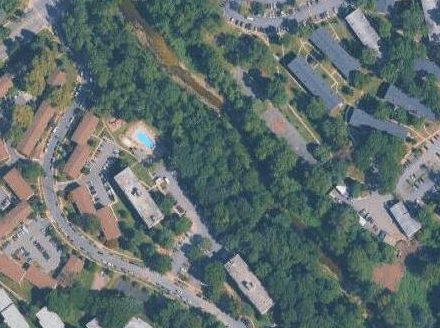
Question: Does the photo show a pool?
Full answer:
Yes, a pool can be made out from above.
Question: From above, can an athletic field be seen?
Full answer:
No, no athletic field can be seen from above.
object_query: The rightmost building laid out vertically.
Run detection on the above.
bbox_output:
[420,0,440,35]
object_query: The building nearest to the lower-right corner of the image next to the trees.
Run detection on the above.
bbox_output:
[389,201,421,236]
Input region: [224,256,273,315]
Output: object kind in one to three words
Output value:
building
